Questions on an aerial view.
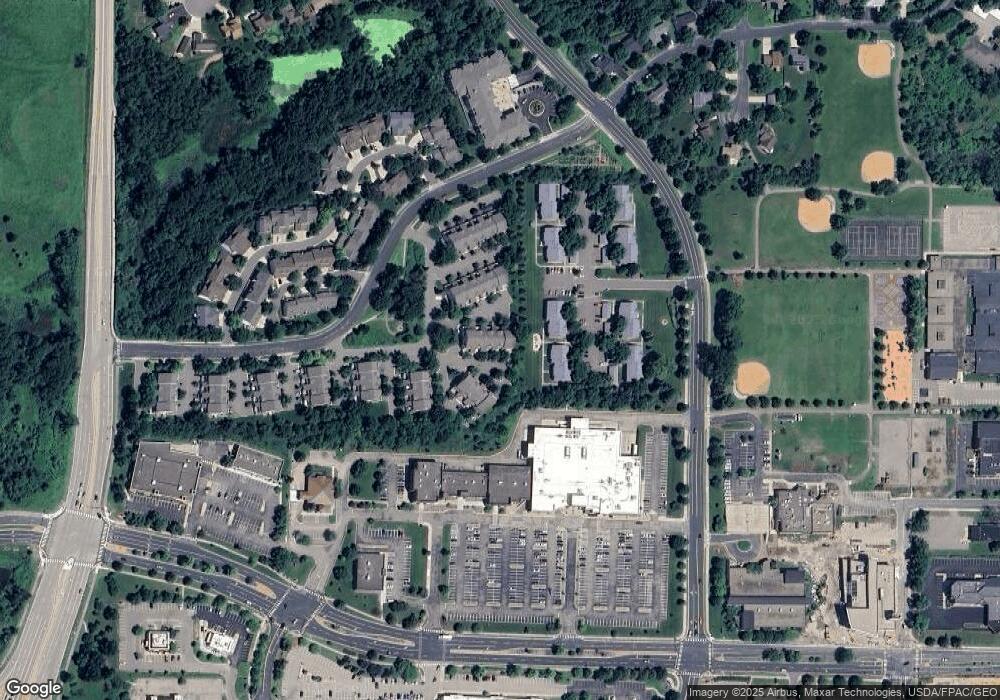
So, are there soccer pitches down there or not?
Yes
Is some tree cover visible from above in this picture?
Yes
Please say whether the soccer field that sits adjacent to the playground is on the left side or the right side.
right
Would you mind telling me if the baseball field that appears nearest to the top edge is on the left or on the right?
right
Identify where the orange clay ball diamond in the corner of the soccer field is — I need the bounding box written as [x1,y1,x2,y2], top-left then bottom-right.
[733,360,771,401]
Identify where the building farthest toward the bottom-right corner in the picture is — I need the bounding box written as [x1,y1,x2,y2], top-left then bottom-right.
[945,576,1000,634]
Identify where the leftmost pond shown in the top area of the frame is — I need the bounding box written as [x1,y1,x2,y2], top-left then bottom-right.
[270,49,343,87]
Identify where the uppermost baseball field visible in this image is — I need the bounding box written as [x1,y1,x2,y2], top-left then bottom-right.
[857,41,895,79]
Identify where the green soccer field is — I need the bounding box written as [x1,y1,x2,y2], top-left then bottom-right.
[733,276,868,404]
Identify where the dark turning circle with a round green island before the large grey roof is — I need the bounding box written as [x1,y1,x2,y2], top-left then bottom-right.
[515,65,557,136]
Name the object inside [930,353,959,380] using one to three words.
building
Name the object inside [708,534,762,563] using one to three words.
roundabout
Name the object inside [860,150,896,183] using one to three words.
baseball field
